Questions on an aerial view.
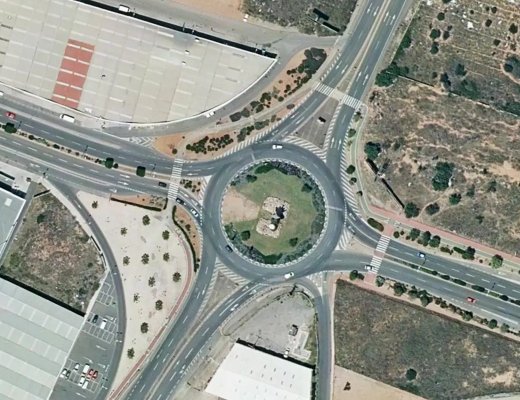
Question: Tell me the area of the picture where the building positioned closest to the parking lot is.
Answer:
bottom left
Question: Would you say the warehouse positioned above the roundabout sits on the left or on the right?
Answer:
left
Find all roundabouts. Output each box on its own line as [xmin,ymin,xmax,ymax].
[190,127,353,284]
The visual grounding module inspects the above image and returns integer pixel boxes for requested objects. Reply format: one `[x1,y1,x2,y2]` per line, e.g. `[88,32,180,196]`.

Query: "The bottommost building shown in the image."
[205,342,313,400]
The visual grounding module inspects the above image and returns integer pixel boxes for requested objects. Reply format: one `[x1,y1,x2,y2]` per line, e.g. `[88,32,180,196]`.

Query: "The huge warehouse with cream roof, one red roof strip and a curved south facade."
[0,0,277,125]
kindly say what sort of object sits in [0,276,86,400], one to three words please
building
